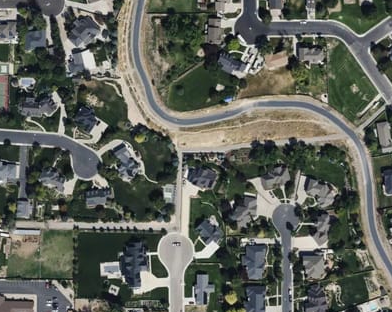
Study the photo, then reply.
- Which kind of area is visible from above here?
residential area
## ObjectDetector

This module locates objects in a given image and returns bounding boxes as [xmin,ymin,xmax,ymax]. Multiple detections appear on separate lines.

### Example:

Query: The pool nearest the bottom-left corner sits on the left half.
[100,262,121,278]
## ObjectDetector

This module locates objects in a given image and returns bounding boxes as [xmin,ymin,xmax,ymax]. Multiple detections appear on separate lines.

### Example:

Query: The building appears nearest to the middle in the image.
[187,163,219,190]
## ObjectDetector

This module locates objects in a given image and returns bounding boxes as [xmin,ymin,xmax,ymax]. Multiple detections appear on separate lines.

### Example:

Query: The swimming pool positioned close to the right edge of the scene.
[358,299,388,312]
